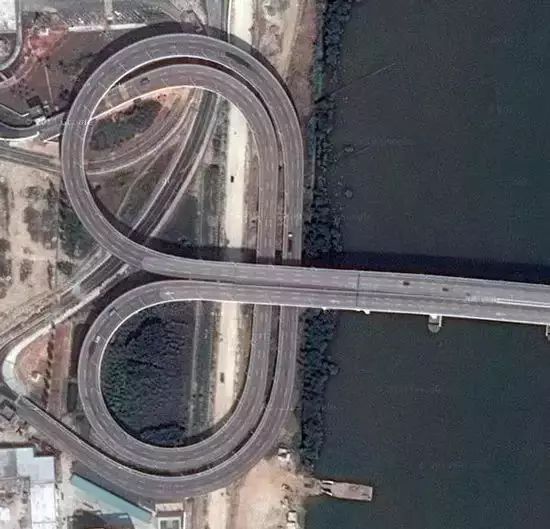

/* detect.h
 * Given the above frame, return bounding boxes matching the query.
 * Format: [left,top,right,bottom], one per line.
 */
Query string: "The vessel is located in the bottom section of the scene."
[325,482,372,501]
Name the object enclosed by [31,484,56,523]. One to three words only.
building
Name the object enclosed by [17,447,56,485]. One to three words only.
building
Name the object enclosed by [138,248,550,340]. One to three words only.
bridge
